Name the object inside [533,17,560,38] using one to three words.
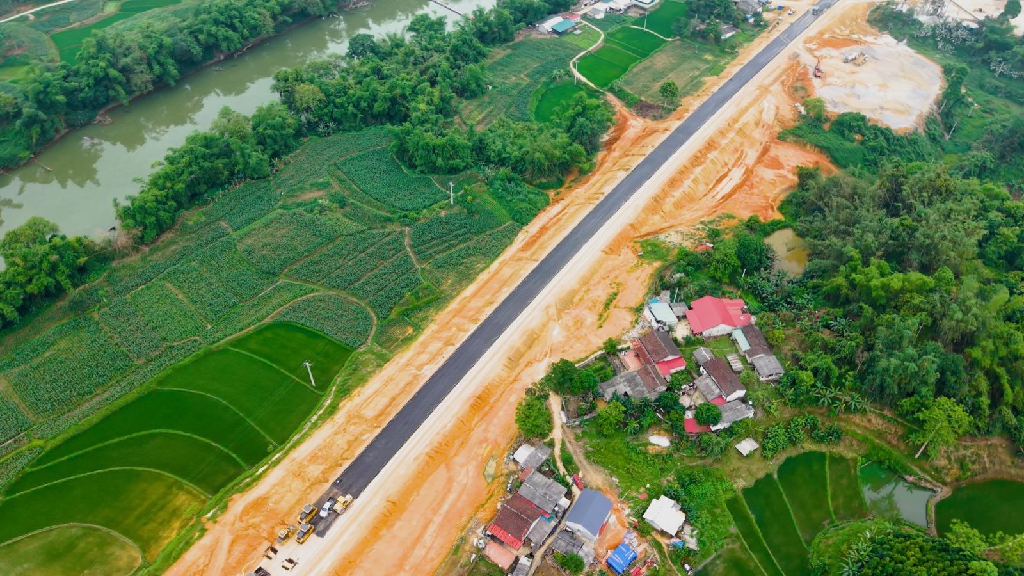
barn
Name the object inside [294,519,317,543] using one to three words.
work vehicle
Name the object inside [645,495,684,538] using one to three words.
house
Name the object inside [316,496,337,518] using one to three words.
truck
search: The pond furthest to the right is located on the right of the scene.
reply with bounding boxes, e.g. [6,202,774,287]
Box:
[937,482,1024,546]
